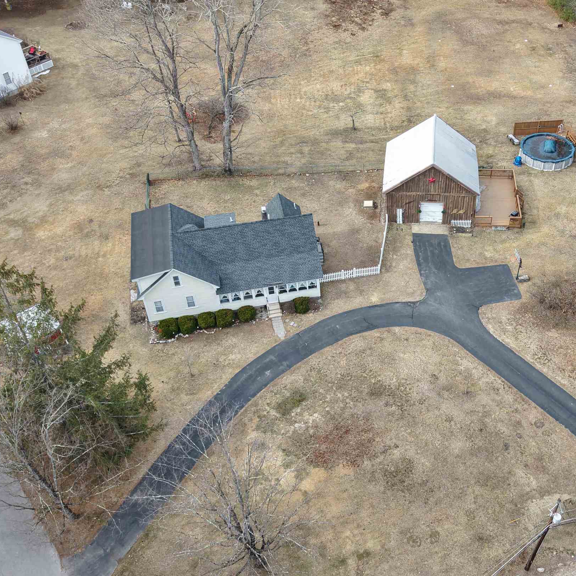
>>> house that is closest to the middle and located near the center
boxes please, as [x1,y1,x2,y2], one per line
[130,192,331,322]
